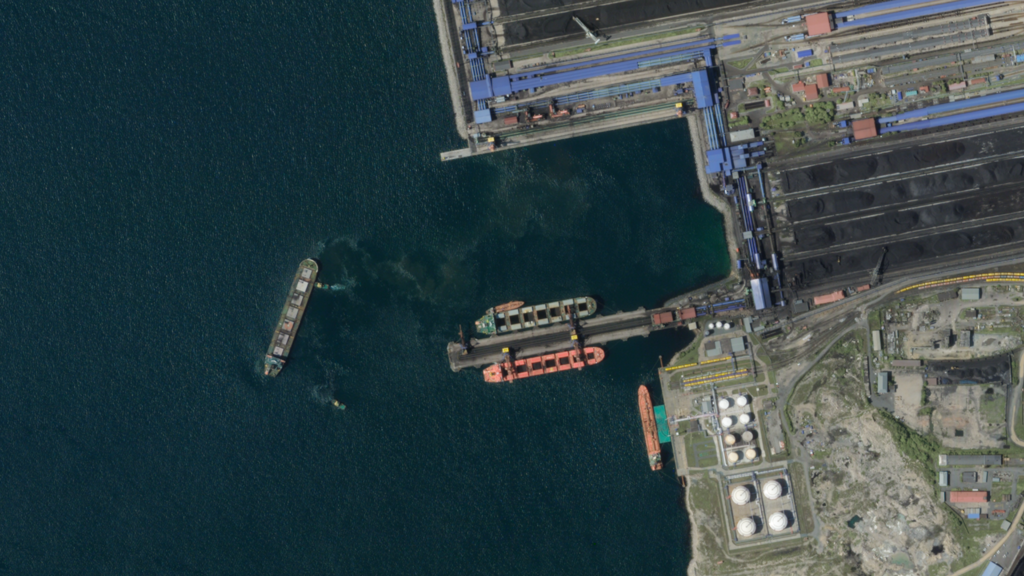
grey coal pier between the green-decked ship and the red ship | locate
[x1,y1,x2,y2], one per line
[447,302,697,371]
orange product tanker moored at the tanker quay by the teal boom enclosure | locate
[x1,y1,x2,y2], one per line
[638,385,662,473]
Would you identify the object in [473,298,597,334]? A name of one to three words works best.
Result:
ship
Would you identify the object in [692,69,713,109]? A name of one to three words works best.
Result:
shed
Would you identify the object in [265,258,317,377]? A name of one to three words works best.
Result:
ship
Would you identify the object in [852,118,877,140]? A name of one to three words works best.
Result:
building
